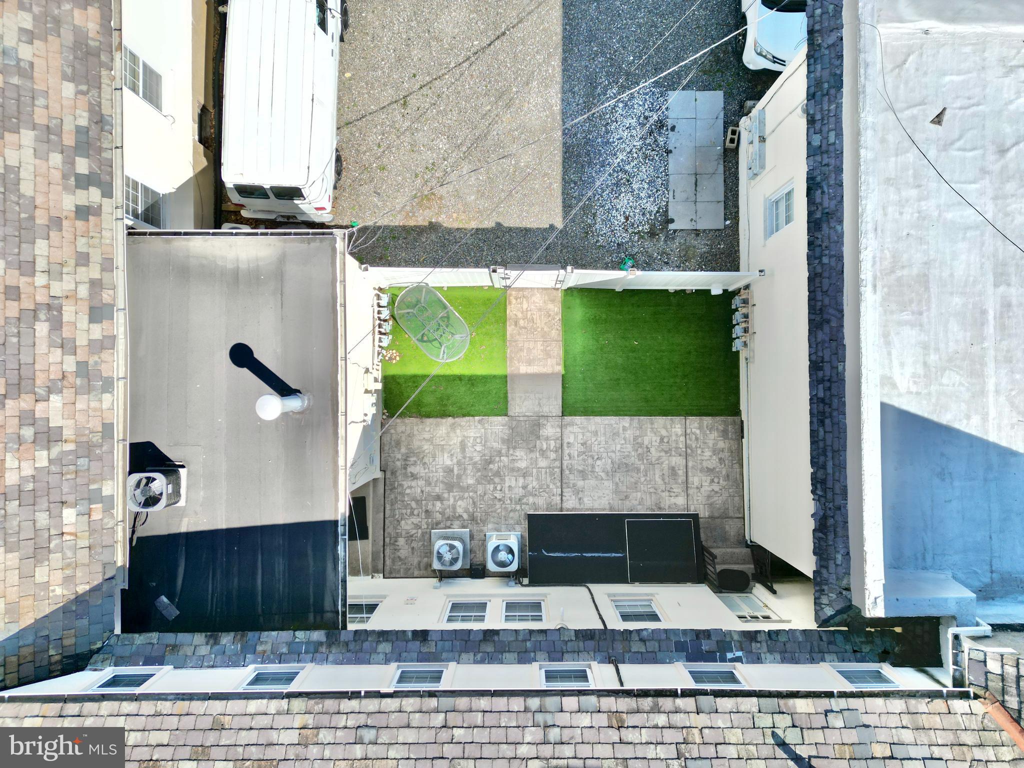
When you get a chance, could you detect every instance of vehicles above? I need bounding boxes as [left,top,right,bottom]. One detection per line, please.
[221,0,351,228]
[730,0,801,81]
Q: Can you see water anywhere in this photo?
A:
No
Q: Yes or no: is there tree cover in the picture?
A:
No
